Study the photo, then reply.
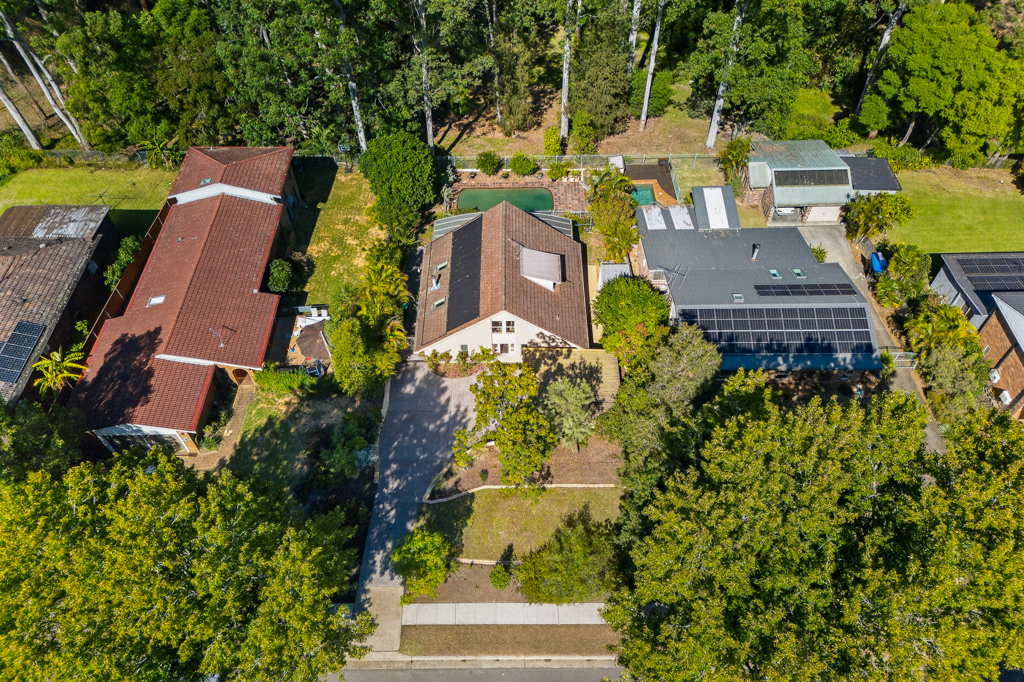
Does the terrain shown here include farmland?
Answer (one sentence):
No, no farmland is visible.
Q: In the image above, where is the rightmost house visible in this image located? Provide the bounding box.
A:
[930,254,1024,426]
